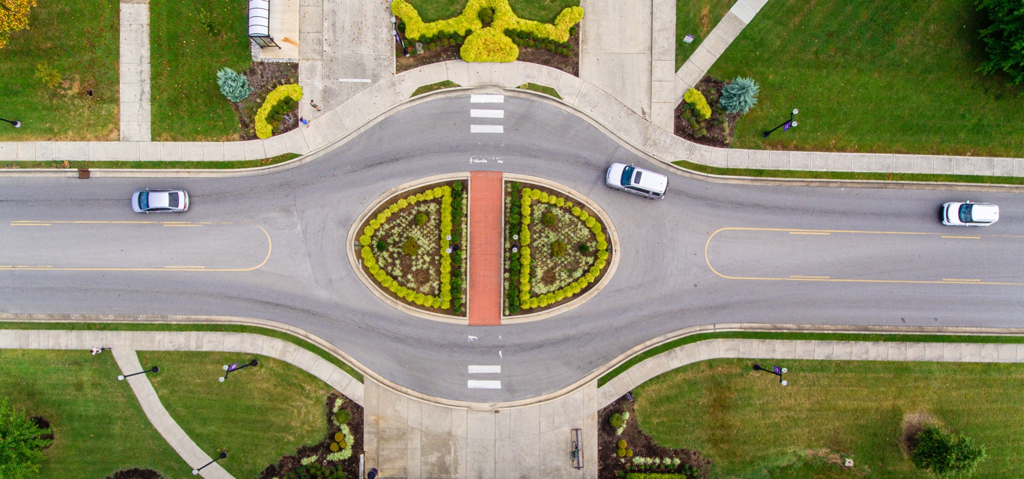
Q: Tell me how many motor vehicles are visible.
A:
three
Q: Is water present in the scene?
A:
No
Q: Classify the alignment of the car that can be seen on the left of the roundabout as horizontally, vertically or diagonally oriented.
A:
horizontally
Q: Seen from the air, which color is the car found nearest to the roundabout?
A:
white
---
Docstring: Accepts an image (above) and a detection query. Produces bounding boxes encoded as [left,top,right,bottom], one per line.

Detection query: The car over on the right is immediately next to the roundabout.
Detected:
[607,165,666,201]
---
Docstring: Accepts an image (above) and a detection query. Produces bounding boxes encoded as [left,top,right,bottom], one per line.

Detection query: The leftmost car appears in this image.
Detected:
[131,187,191,214]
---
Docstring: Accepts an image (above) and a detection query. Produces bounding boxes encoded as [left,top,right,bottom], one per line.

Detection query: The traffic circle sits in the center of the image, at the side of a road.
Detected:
[347,171,620,326]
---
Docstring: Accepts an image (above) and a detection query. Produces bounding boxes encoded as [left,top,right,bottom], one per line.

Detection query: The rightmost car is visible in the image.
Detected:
[939,199,1000,227]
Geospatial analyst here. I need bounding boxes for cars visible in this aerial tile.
[607,165,666,201]
[939,199,1000,227]
[131,187,191,214]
